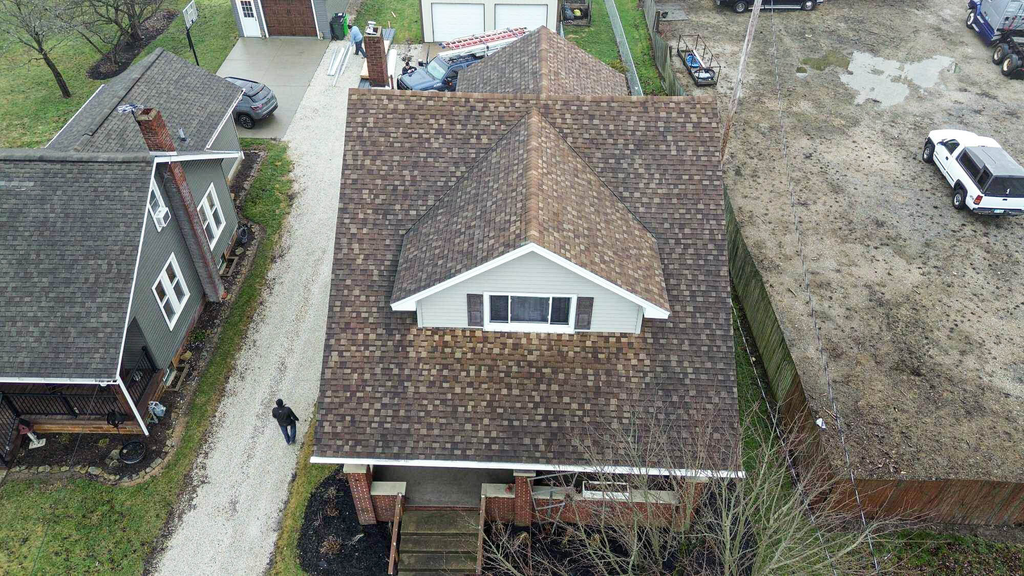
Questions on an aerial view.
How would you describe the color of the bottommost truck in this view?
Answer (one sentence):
In this view, the bottommost truck is white.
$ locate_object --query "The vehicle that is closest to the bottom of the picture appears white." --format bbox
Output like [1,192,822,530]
[922,128,1024,221]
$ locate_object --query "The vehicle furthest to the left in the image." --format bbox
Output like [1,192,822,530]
[228,76,284,129]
